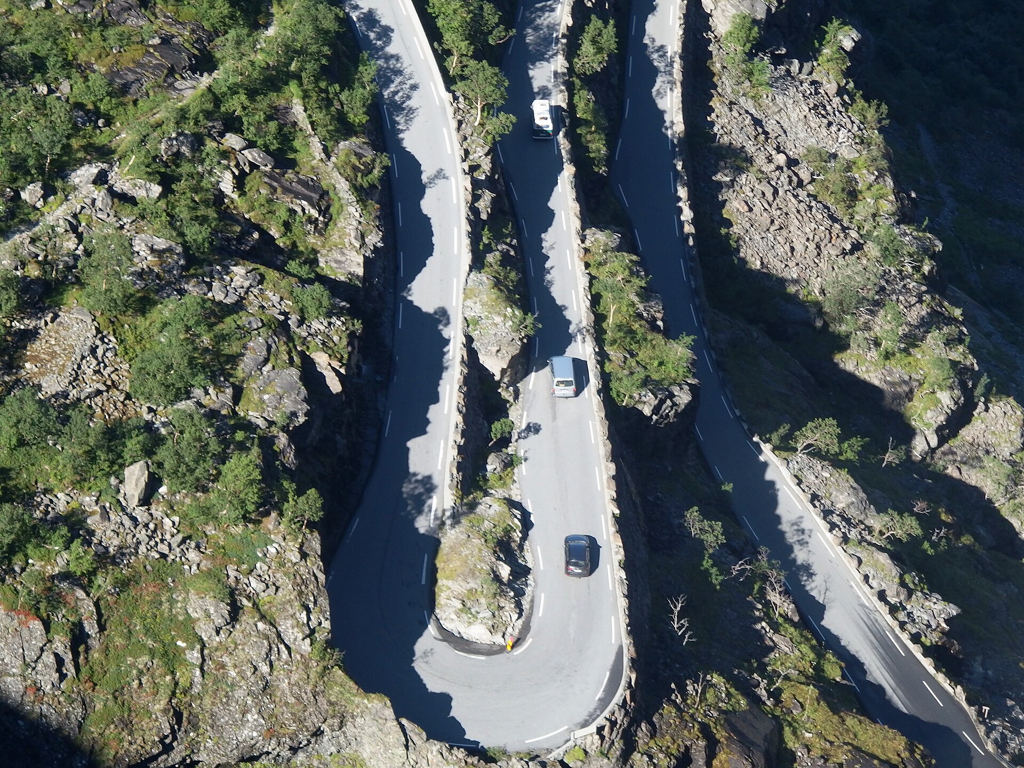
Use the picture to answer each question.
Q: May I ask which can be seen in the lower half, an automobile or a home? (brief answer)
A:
automobile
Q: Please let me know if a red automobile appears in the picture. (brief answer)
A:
No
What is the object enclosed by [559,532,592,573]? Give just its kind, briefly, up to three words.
car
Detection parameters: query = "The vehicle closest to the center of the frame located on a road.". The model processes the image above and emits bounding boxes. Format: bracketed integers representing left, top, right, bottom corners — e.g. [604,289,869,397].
[547,353,576,393]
